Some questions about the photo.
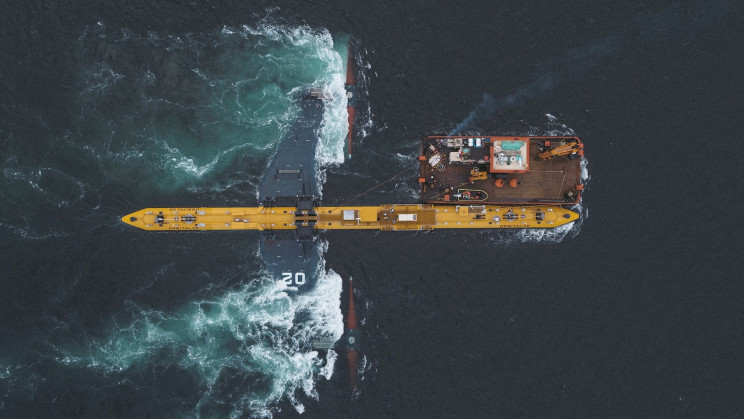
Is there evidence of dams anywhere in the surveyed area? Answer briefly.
No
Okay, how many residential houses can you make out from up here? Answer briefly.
0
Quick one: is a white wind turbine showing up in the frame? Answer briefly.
No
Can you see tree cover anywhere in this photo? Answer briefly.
No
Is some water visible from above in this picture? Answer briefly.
Yes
